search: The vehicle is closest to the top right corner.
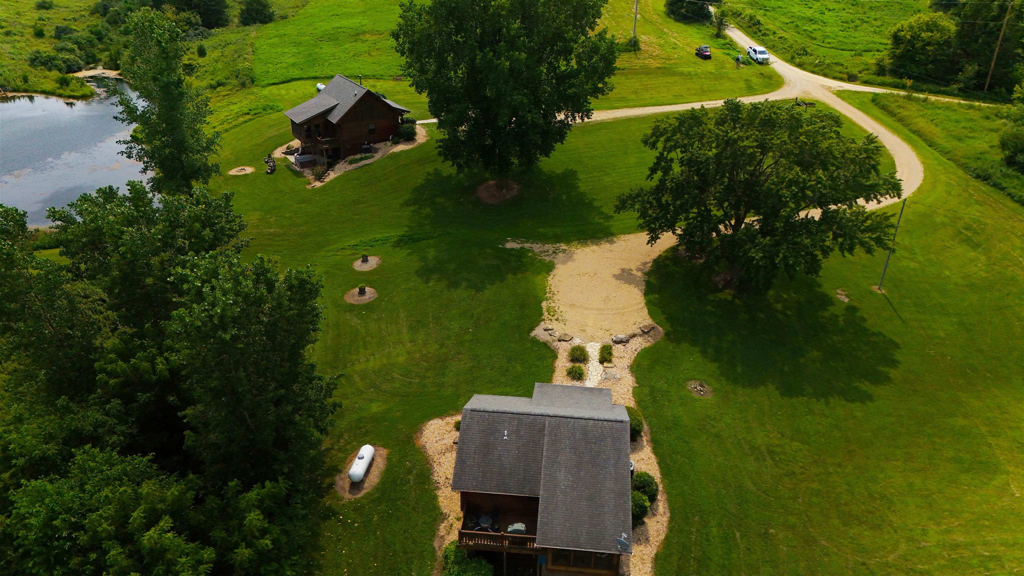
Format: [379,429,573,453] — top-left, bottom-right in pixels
[745,42,774,64]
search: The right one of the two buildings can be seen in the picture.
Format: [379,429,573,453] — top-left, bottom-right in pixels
[455,383,632,576]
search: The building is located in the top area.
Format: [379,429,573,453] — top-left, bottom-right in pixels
[283,72,420,169]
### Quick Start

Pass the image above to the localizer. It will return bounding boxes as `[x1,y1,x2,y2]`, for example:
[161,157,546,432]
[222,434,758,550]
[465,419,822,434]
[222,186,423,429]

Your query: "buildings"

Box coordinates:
[283,72,420,169]
[455,383,632,576]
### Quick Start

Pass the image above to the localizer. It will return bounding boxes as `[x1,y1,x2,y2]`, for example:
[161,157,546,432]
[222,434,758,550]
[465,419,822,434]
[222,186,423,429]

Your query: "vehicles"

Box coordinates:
[695,42,711,60]
[745,42,774,64]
